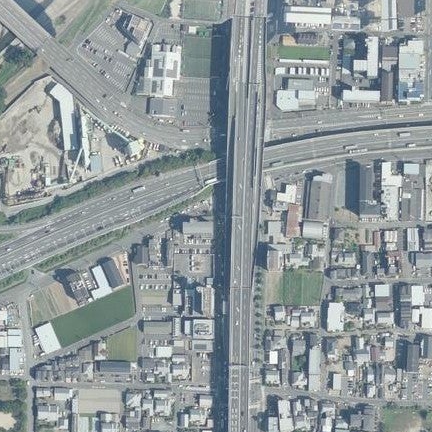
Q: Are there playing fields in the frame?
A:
Yes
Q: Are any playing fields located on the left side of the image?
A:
Yes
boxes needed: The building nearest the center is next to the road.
[182,220,213,235]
